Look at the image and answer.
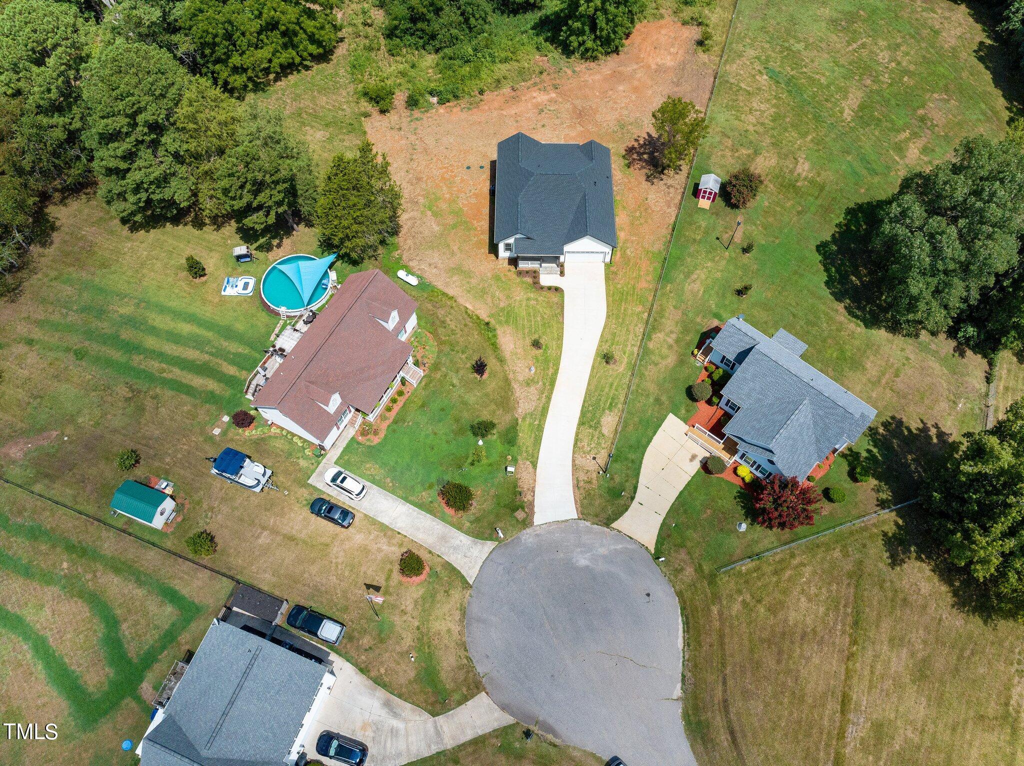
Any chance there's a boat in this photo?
Yes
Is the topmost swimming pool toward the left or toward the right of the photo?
left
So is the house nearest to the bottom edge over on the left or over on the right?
left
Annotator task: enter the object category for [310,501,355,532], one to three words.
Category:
car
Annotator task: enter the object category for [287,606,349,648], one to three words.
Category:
truck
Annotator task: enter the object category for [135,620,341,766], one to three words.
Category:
house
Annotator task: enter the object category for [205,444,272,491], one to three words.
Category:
boat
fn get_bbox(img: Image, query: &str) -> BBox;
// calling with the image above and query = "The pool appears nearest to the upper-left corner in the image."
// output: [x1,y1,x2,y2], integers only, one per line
[260,254,333,323]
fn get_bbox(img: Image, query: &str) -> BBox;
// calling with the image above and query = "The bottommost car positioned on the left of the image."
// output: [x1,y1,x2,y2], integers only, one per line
[315,733,370,766]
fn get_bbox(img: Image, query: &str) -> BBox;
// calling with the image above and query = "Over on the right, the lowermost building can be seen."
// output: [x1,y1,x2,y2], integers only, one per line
[682,310,877,487]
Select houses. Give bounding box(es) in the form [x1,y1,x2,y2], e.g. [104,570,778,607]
[493,132,618,279]
[135,620,341,766]
[242,268,425,450]
[682,310,877,487]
